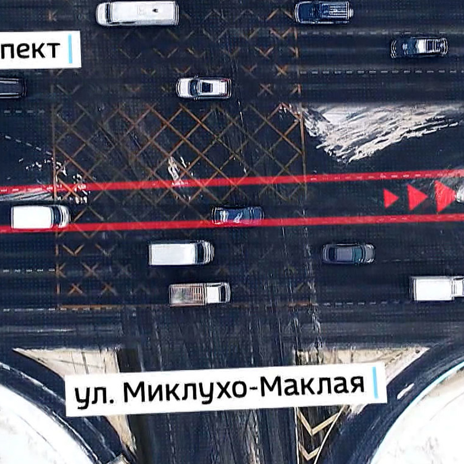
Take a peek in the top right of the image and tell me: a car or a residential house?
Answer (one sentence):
What appears in the top right of the image is a car.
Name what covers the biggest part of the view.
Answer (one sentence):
What you mostly see from above here is paved ground.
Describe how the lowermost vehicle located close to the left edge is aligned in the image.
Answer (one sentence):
The lowermost vehicle located close to the left edge is laid out from side to side.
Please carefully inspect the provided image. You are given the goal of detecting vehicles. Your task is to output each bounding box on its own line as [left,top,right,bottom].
[211,204,264,230]
[96,0,179,28]
[169,279,232,306]
[147,239,214,269]
[294,0,354,25]
[177,75,231,100]
[322,241,376,266]
[8,204,71,232]
[408,273,464,303]
[389,34,447,61]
